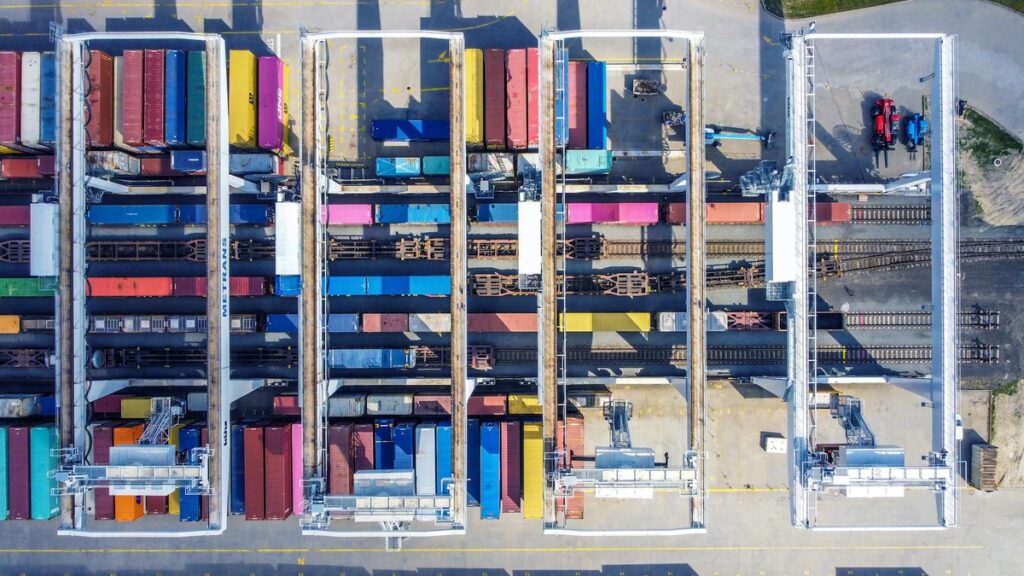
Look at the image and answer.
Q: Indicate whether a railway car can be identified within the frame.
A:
Yes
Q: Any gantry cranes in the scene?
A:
Yes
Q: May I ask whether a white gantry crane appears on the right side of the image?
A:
Yes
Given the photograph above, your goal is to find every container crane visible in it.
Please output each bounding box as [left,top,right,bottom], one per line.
[33,20,294,535]
[512,26,722,535]
[719,20,969,532]
[276,25,512,542]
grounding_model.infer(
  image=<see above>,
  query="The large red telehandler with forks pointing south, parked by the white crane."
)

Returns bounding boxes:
[871,99,901,158]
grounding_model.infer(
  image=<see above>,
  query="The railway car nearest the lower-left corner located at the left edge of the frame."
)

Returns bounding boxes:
[0,345,54,365]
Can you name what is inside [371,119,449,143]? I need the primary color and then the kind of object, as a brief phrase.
blue trailer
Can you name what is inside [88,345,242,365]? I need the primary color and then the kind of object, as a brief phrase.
black rail car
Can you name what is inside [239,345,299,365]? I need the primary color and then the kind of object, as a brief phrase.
black rail car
